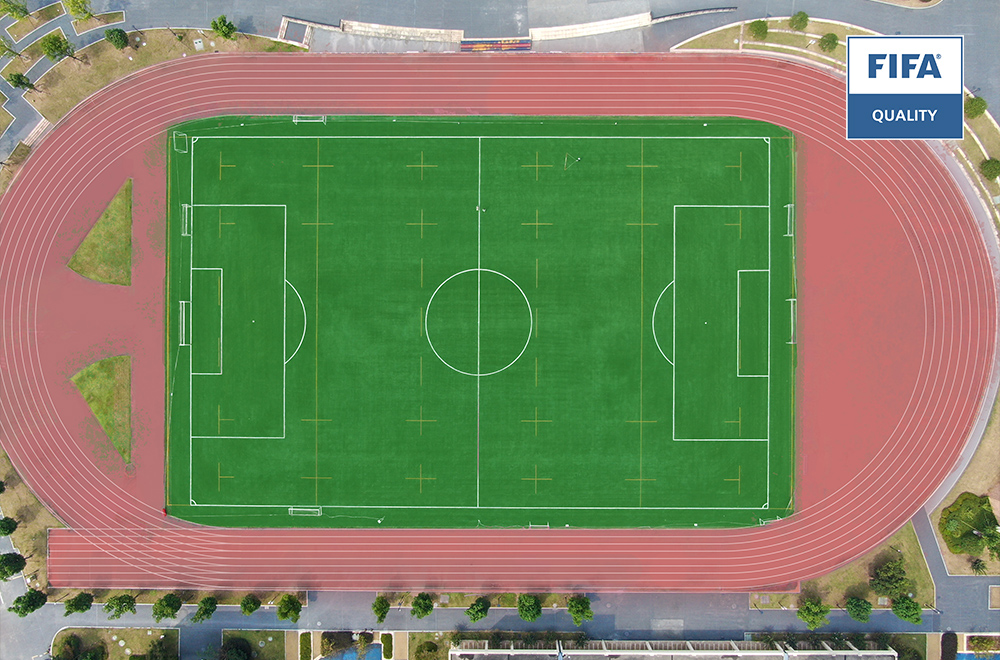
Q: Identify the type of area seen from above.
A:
sports ground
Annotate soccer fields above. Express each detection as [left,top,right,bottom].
[165,115,795,528]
